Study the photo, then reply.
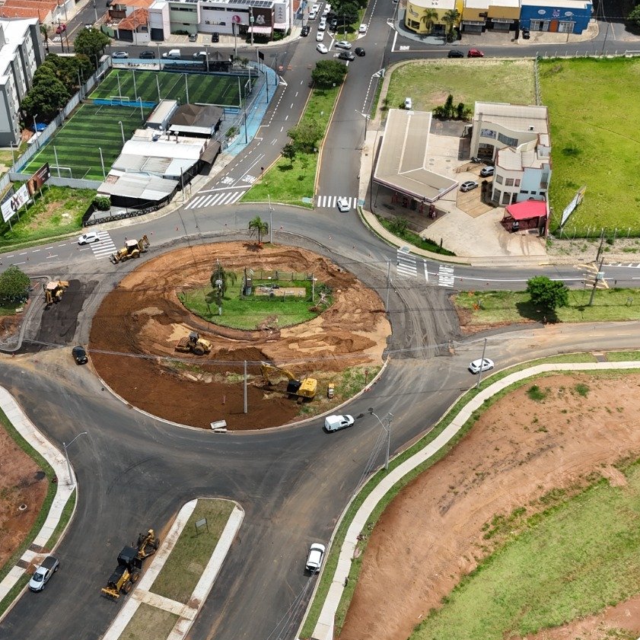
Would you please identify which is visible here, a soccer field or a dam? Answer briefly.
soccer field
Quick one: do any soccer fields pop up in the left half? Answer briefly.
Yes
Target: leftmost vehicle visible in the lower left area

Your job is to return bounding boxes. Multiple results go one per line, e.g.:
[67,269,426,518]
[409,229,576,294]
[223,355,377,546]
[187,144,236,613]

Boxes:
[23,553,64,592]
